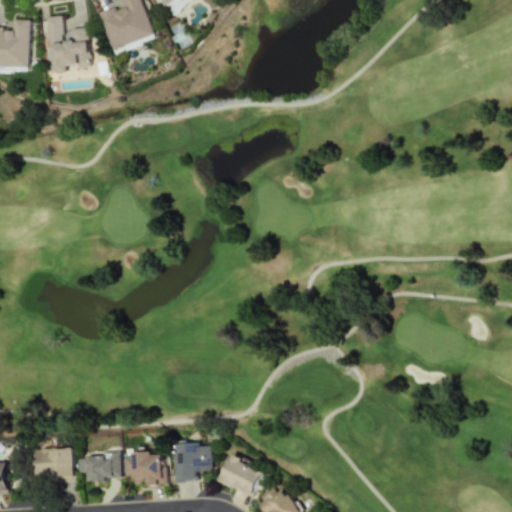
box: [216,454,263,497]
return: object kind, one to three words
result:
house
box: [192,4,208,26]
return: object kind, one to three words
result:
swimming pool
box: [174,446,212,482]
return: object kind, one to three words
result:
house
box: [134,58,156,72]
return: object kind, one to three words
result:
swimming pool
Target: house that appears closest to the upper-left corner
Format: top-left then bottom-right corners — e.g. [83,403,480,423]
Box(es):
[0,19,32,73]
